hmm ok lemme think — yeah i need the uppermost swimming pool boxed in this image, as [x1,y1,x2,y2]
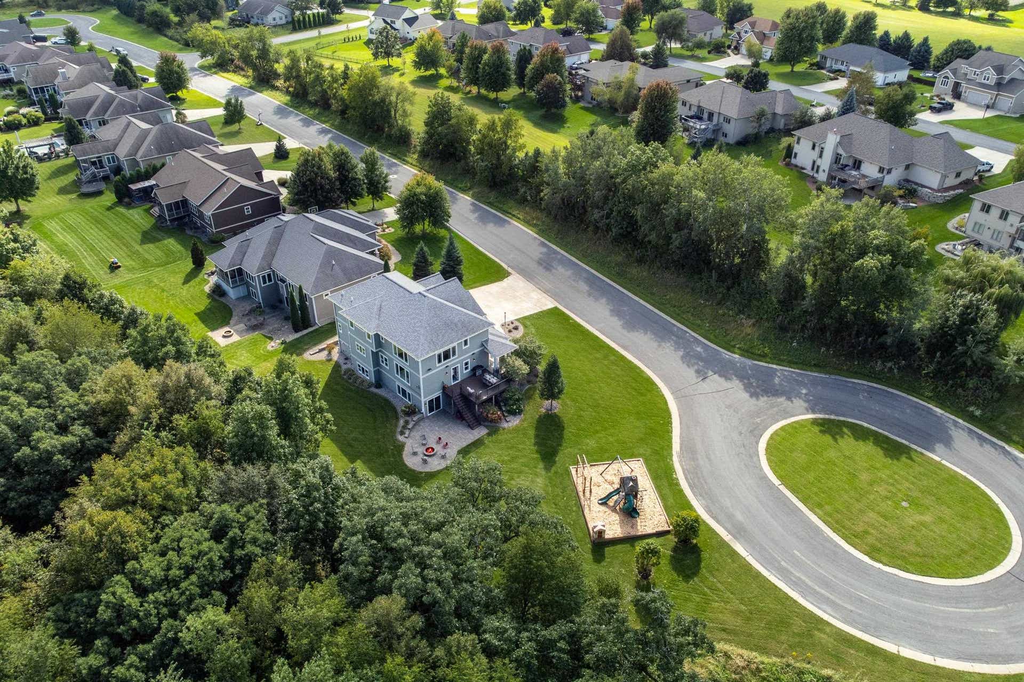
[16,138,83,155]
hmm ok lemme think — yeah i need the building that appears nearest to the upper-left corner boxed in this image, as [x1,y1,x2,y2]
[0,15,36,45]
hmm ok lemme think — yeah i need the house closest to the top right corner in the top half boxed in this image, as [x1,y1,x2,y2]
[934,53,1024,111]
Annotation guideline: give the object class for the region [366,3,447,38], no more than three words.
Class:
house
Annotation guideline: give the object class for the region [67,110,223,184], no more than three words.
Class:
house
